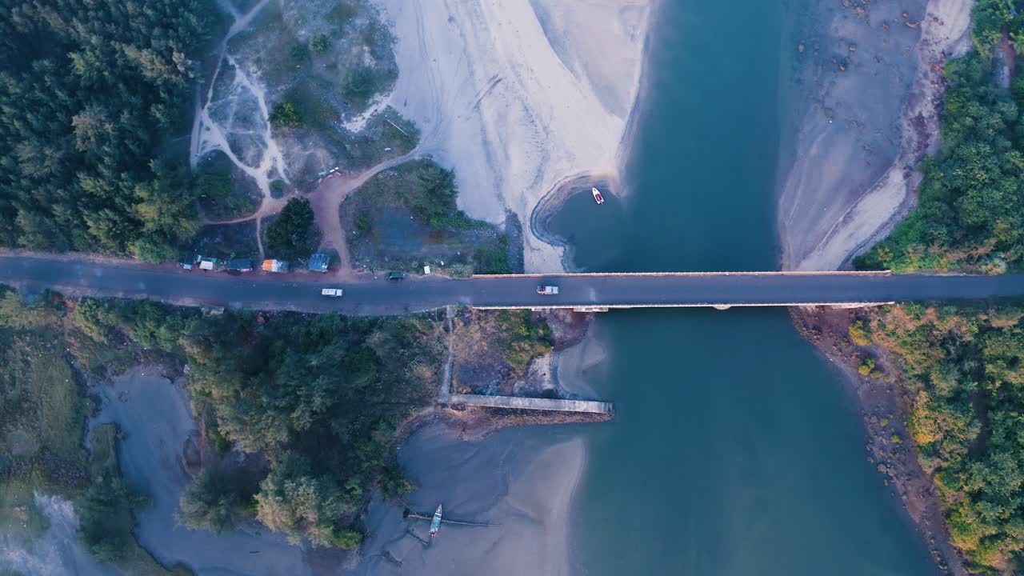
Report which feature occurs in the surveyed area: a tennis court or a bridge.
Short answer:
bridge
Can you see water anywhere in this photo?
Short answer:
Yes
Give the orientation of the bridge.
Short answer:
horizontally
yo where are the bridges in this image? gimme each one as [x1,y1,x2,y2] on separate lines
[472,271,894,311]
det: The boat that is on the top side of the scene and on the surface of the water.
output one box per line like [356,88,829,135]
[593,186,606,206]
